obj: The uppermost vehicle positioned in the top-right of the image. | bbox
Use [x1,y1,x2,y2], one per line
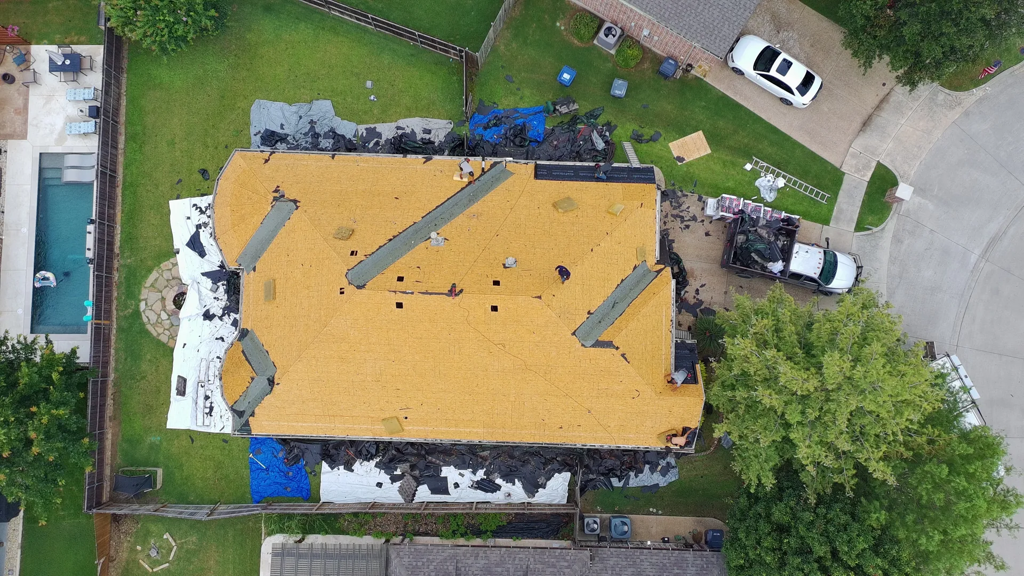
[727,36,826,108]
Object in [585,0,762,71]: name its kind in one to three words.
house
